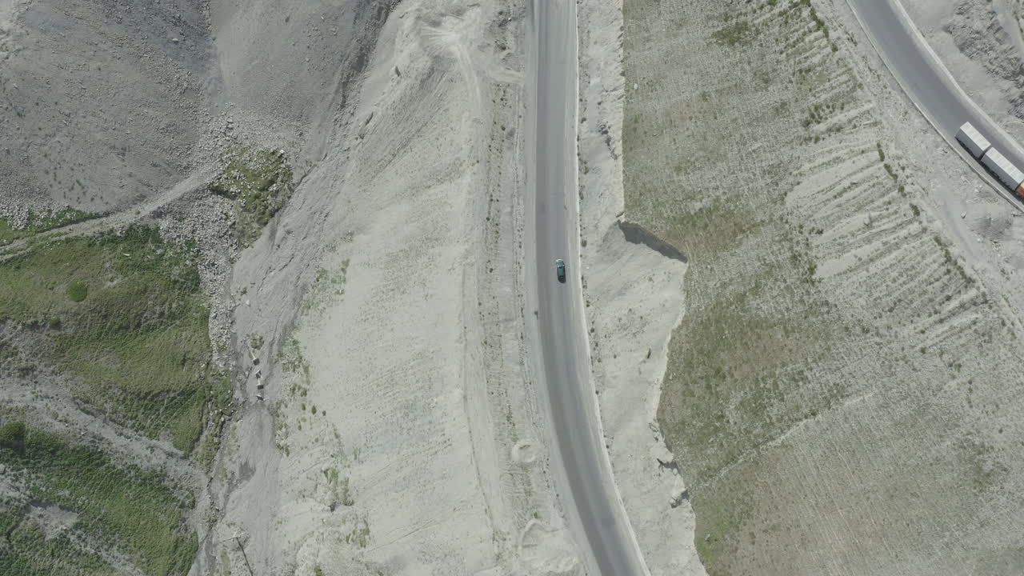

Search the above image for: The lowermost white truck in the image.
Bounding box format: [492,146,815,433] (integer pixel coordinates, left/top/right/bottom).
[981,148,1024,196]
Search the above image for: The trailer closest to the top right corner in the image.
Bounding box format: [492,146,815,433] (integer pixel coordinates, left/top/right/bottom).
[954,122,991,155]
